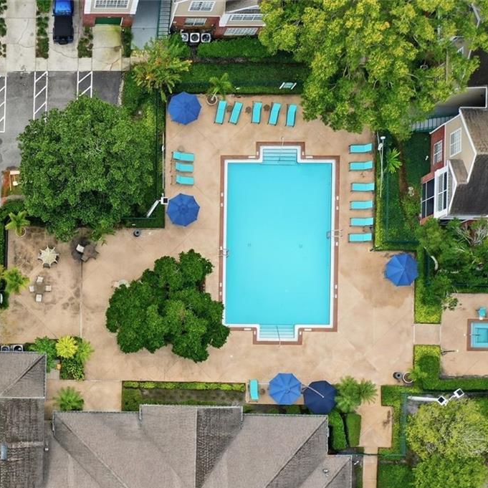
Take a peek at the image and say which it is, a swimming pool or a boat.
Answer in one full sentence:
There is a swimming pool in the scene.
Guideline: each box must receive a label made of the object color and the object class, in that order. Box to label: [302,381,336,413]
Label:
blue umbrella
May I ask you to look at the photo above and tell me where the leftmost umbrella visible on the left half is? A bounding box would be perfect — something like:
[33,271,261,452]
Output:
[38,245,58,266]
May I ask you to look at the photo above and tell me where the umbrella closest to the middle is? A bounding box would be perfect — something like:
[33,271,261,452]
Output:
[166,194,199,226]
